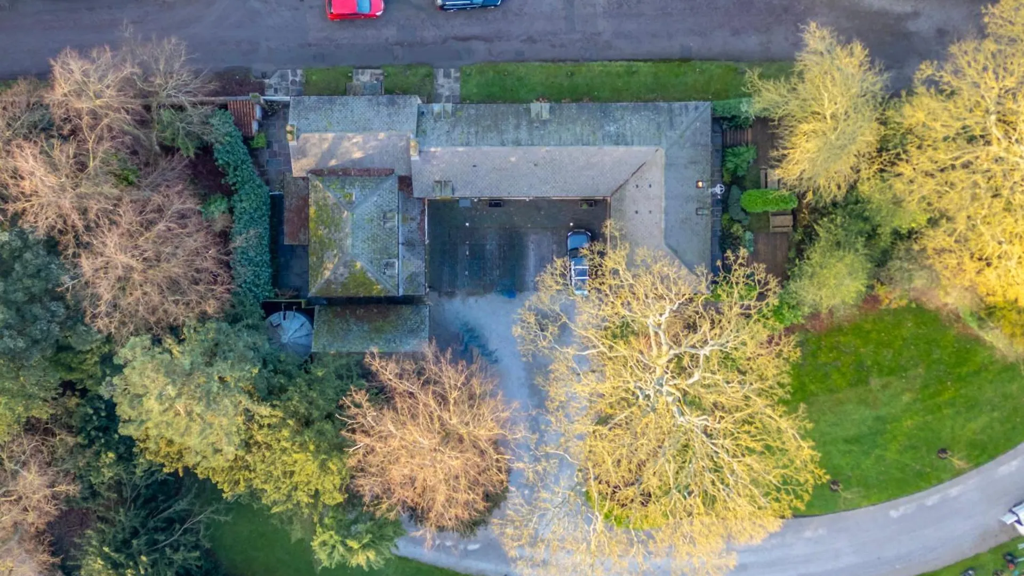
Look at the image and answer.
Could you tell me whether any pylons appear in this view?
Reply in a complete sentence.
No, no pylon is visible in the scene.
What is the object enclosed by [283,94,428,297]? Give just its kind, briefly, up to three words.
house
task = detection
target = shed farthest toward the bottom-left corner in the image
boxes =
[310,305,431,353]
